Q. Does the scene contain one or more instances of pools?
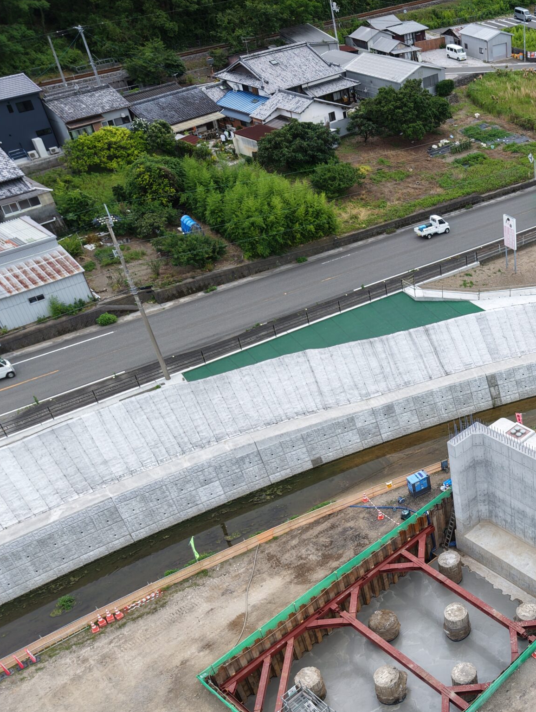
No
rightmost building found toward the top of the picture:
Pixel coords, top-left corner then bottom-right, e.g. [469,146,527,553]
[457,22,516,64]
